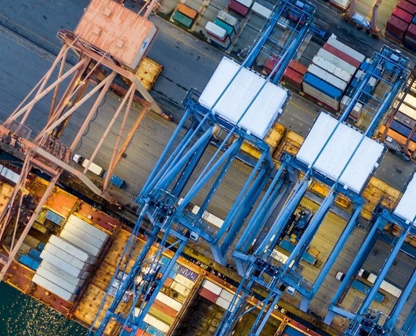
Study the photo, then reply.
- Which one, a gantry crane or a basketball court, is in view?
gantry crane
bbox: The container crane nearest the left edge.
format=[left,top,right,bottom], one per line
[0,0,182,283]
